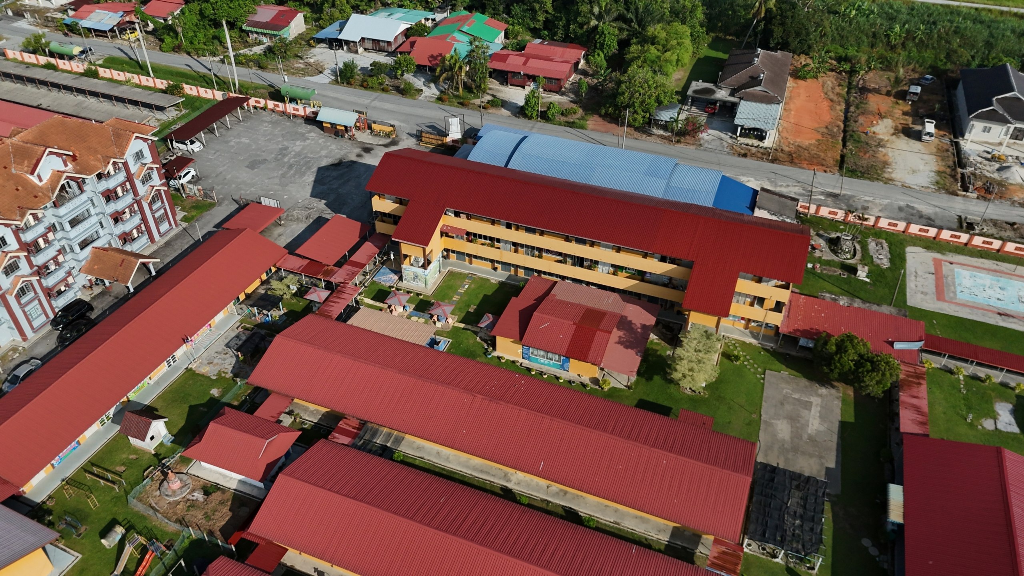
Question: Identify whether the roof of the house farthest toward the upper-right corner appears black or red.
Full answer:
The color of the roof of the house farthest toward the upper-right corner is black.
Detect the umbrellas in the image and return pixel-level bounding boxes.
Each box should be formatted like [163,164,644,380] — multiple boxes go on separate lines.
[426,300,457,322]
[383,288,413,308]
[302,287,332,308]
[472,312,503,336]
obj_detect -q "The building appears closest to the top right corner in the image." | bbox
[955,59,1024,158]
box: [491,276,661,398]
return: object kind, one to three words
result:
building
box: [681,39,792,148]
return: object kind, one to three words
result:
house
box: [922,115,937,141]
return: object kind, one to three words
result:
vehicle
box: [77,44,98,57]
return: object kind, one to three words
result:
vehicle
